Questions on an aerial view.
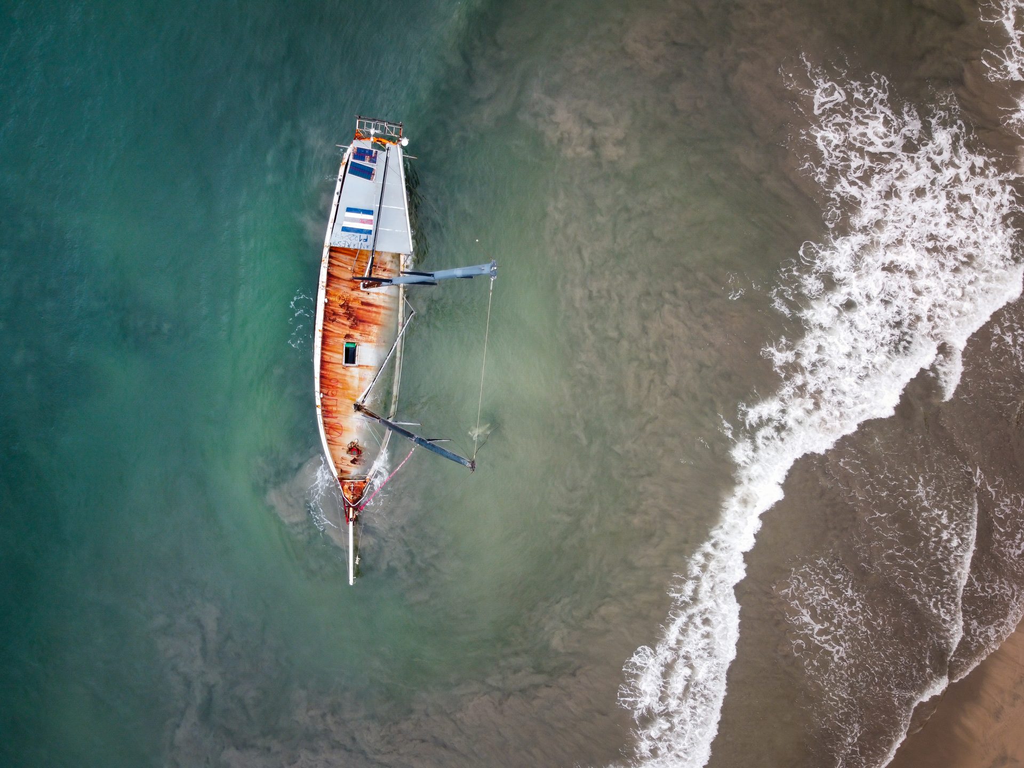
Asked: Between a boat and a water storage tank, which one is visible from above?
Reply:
boat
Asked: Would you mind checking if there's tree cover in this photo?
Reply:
No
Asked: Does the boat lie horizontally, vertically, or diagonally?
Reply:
vertically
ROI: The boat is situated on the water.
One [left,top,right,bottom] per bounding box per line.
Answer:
[314,116,508,585]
